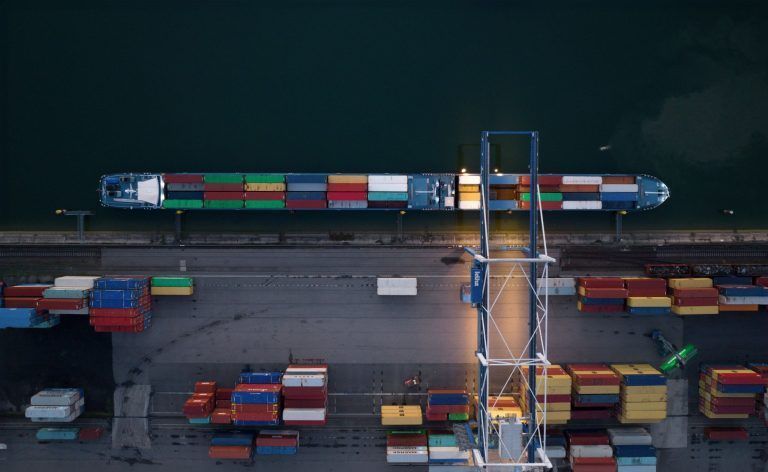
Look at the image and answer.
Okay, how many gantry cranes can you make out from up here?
1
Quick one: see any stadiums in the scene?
No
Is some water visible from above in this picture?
Yes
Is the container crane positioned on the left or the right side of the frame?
right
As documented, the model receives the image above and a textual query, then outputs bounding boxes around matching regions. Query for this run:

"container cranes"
[450,130,561,470]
